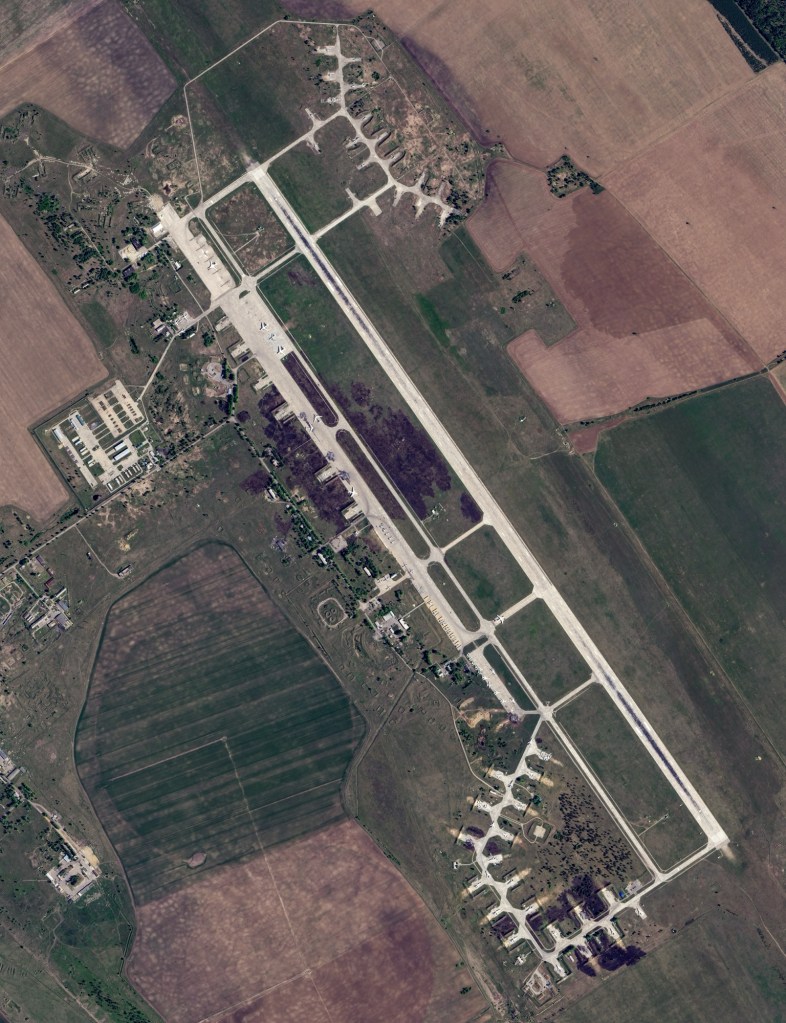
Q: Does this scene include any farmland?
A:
Yes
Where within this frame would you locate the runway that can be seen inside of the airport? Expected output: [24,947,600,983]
[252,167,729,848]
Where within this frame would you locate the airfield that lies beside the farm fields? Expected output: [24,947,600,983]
[147,24,731,984]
